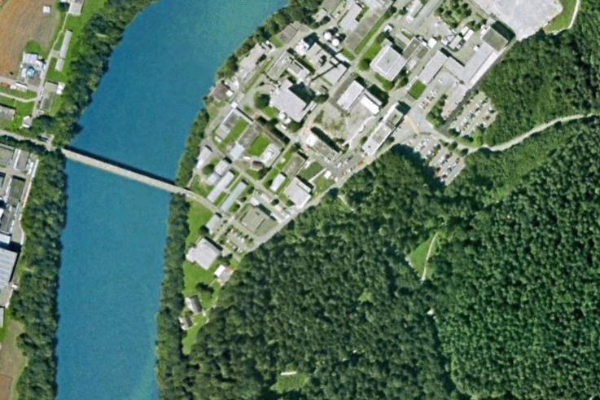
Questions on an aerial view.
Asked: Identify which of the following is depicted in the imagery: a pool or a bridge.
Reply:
bridge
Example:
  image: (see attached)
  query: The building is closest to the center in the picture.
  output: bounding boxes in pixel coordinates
[283,178,312,208]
